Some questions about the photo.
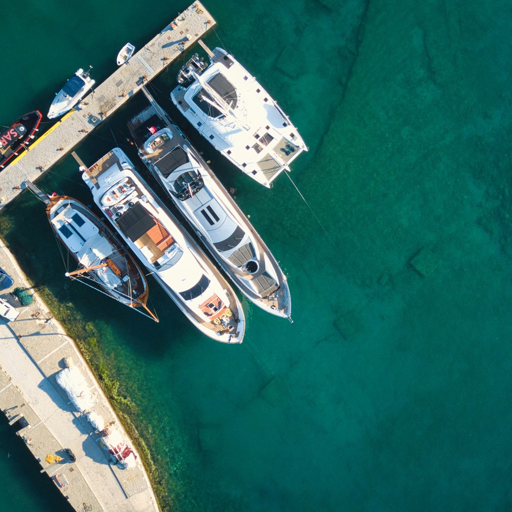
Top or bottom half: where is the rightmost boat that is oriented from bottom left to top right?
top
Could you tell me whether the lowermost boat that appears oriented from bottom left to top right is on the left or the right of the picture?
left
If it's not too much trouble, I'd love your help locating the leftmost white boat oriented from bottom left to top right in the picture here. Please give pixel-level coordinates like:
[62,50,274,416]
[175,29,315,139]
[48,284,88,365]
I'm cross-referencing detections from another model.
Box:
[46,65,97,119]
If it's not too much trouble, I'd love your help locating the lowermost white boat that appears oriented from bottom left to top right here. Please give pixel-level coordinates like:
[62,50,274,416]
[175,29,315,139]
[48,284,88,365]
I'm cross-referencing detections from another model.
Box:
[102,174,139,205]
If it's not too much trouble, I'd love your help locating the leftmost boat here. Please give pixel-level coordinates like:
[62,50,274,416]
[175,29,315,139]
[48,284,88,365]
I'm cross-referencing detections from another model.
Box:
[0,108,43,168]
